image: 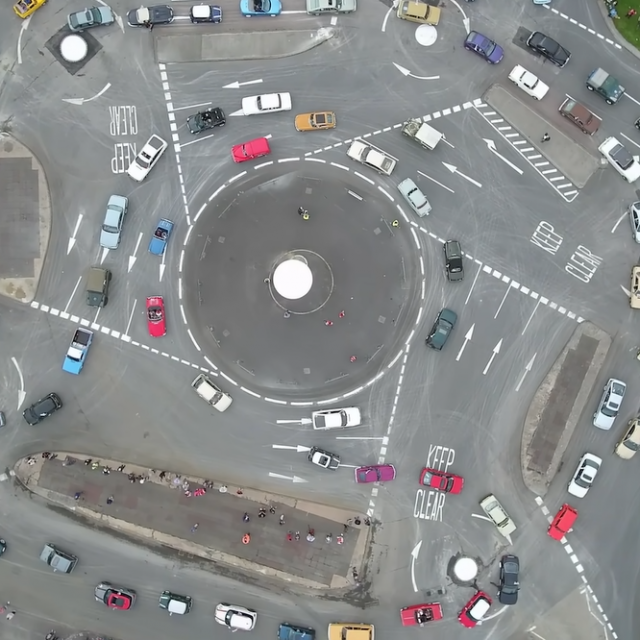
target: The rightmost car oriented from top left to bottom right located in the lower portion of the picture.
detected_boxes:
[480,494,515,536]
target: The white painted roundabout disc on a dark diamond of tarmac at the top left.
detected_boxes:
[46,25,103,76]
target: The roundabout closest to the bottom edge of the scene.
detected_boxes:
[448,554,480,586]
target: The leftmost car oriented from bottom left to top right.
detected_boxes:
[23,394,61,424]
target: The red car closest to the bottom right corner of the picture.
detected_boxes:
[548,504,578,540]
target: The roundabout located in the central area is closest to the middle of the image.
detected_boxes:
[179,159,425,405]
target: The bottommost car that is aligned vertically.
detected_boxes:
[499,554,521,604]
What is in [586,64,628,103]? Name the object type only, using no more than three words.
vehicle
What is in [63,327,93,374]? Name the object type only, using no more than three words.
truck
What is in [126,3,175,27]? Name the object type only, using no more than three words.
car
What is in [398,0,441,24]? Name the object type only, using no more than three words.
car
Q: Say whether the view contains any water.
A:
No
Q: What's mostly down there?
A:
paved ground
